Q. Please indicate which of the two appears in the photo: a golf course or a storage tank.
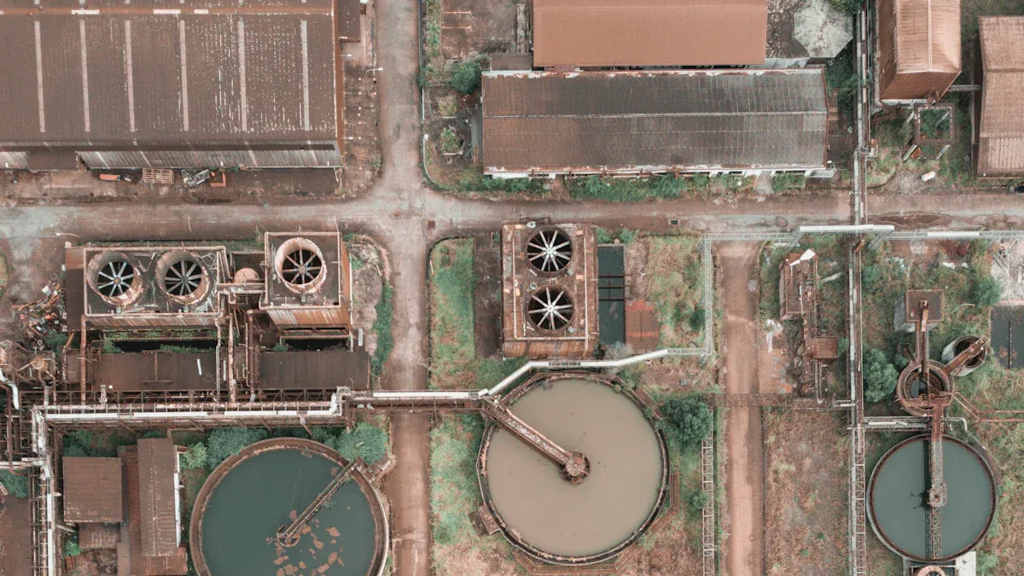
storage tank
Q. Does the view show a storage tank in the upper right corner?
No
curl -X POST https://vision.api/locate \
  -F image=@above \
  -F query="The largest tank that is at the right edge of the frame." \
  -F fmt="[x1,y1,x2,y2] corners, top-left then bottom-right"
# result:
[865,425,995,560]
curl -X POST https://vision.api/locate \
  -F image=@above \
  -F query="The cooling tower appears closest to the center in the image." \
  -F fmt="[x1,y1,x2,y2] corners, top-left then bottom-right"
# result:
[501,218,600,358]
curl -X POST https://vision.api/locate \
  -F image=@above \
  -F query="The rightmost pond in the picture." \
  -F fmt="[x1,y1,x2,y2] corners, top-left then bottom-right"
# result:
[988,298,1024,370]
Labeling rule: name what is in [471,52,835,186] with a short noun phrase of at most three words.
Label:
building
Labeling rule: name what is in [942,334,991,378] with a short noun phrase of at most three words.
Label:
storage tank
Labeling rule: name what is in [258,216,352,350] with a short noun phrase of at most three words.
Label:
cooling tower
